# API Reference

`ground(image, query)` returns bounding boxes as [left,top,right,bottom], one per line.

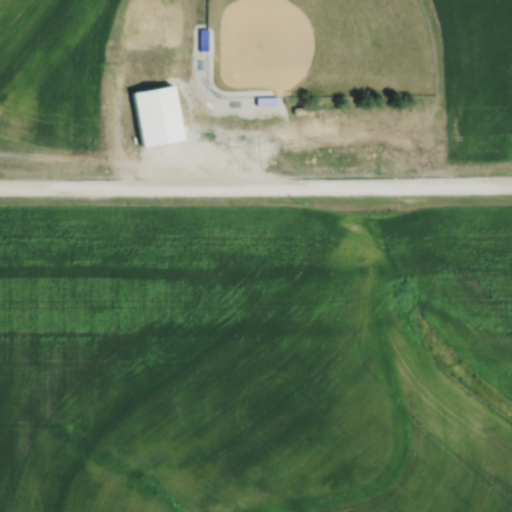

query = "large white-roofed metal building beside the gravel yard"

[135,85,187,147]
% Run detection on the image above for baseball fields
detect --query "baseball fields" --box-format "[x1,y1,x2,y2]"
[209,0,436,95]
